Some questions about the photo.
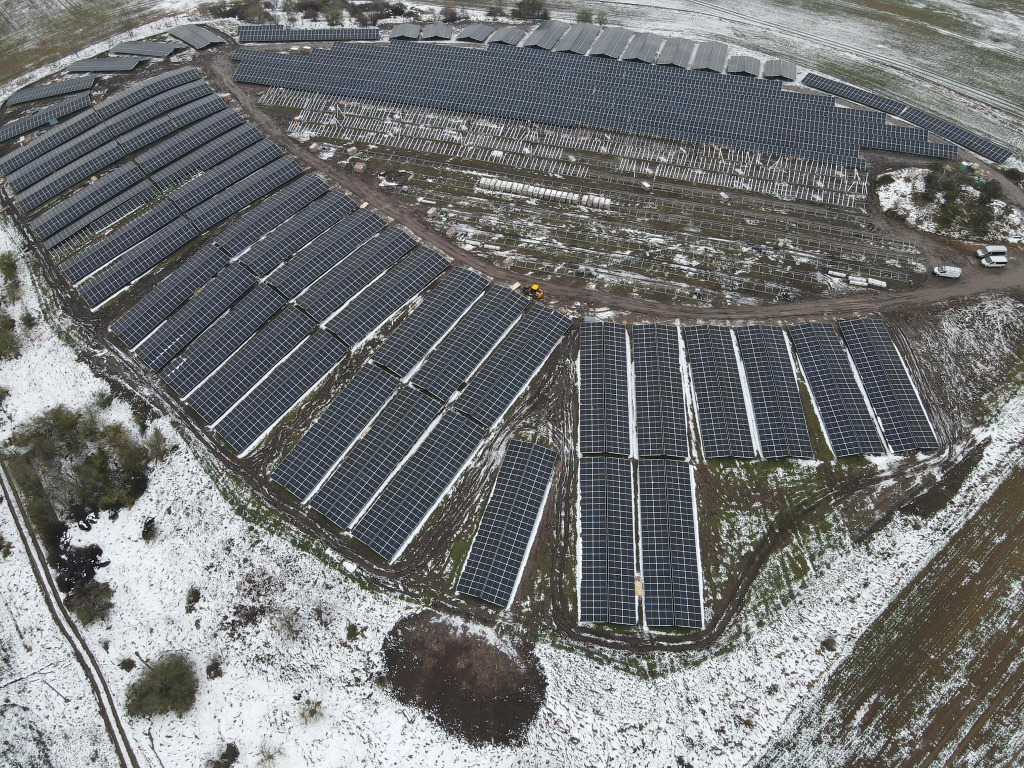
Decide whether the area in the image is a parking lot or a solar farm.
solar farm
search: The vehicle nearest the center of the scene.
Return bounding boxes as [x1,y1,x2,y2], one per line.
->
[522,283,545,300]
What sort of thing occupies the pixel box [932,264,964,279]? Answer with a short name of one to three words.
vehicle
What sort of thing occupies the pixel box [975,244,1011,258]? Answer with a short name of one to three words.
vehicle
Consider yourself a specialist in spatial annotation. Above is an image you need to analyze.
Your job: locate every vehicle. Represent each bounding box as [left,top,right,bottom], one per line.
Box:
[975,244,1011,258]
[522,283,545,300]
[932,264,964,279]
[978,255,1010,268]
